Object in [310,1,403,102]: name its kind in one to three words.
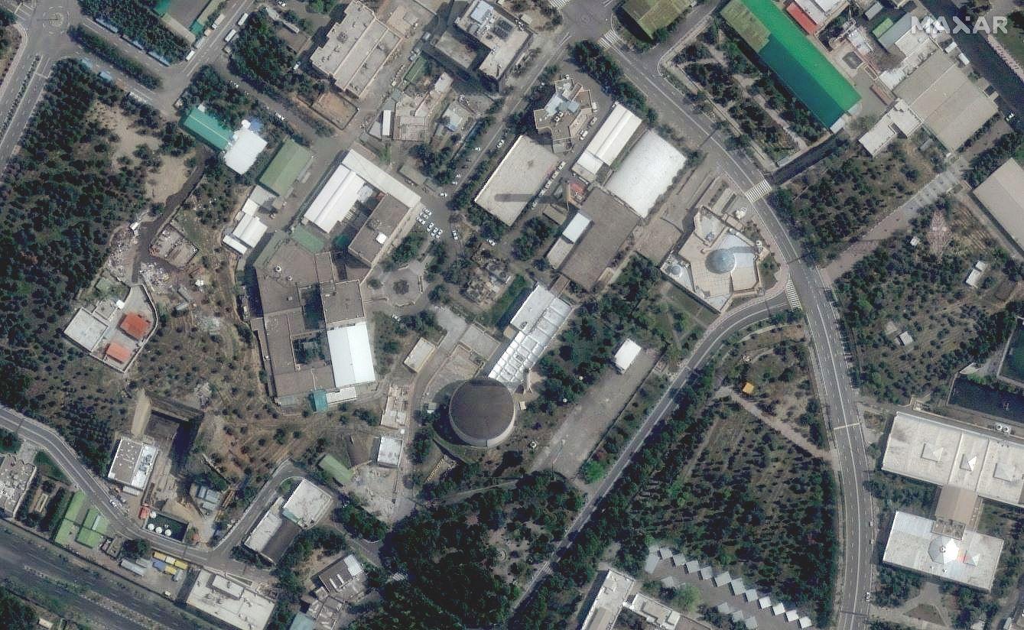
building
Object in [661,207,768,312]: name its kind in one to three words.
building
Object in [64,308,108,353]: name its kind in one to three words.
house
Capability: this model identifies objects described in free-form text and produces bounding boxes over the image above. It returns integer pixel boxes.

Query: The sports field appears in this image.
[1000,321,1024,381]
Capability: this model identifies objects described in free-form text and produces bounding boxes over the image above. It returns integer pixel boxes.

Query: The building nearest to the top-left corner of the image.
[154,0,223,46]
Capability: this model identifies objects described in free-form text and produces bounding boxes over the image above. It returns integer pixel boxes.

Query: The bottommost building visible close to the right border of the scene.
[883,512,1002,595]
